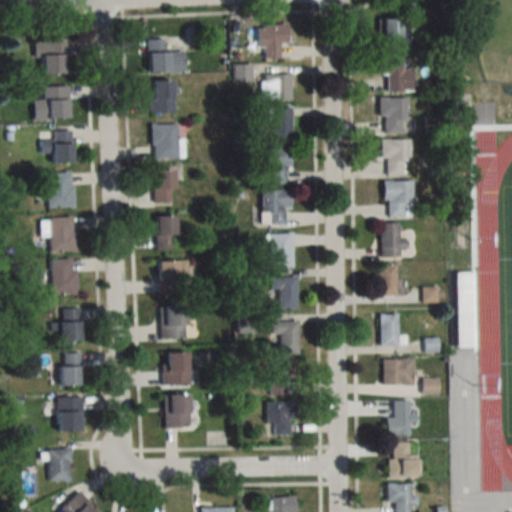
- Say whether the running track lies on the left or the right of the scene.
right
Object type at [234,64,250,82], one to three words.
building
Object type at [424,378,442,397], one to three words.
shed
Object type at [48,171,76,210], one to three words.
house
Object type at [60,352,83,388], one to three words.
house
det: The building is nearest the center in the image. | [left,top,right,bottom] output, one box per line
[270,233,296,270]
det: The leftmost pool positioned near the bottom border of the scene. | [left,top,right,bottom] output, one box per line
[22,466,38,496]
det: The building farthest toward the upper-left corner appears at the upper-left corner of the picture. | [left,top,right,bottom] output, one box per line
[34,40,68,74]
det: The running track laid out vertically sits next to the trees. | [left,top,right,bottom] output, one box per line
[478,124,512,492]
